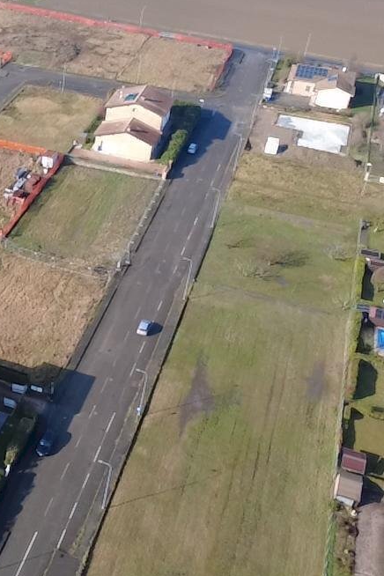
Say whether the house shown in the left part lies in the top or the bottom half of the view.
top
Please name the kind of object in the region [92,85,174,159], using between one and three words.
house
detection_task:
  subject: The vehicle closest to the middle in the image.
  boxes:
[136,317,152,334]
